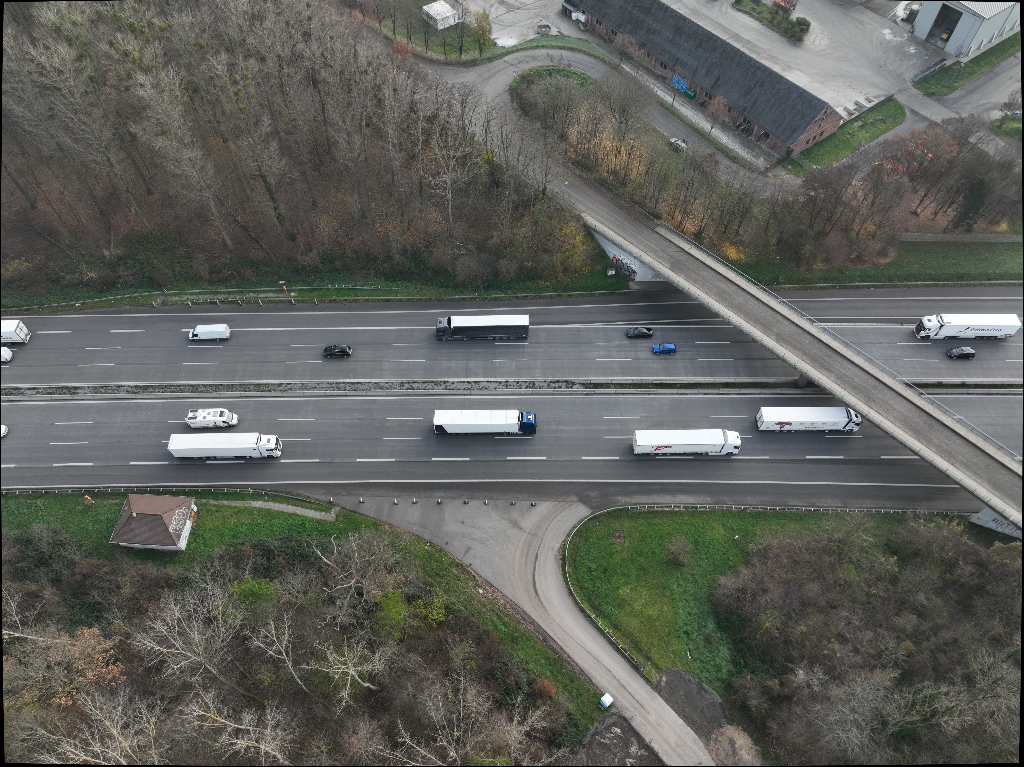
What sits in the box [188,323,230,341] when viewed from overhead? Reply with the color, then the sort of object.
white vehicle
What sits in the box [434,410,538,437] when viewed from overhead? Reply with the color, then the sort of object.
white truck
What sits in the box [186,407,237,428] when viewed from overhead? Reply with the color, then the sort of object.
white camper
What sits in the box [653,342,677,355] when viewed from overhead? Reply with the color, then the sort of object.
blue vehicle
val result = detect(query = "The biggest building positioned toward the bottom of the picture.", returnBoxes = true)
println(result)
[109,494,199,551]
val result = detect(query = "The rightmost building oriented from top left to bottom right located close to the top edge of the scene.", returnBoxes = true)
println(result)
[563,0,847,155]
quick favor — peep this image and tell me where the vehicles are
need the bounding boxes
[0,425,9,437]
[323,346,351,358]
[434,410,538,437]
[186,407,237,428]
[755,407,866,434]
[632,430,742,457]
[0,320,31,346]
[188,323,230,341]
[913,313,1021,339]
[167,433,283,461]
[435,314,529,340]
[0,349,13,361]
[626,326,654,338]
[949,346,977,359]
[653,342,677,355]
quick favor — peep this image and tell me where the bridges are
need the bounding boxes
[568,165,1024,541]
